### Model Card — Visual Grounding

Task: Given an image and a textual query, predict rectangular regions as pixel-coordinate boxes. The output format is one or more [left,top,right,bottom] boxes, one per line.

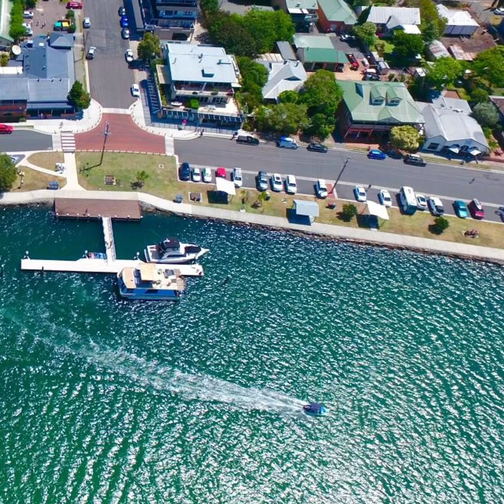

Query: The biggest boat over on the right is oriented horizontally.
[303,402,328,414]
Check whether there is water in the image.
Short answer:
Yes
